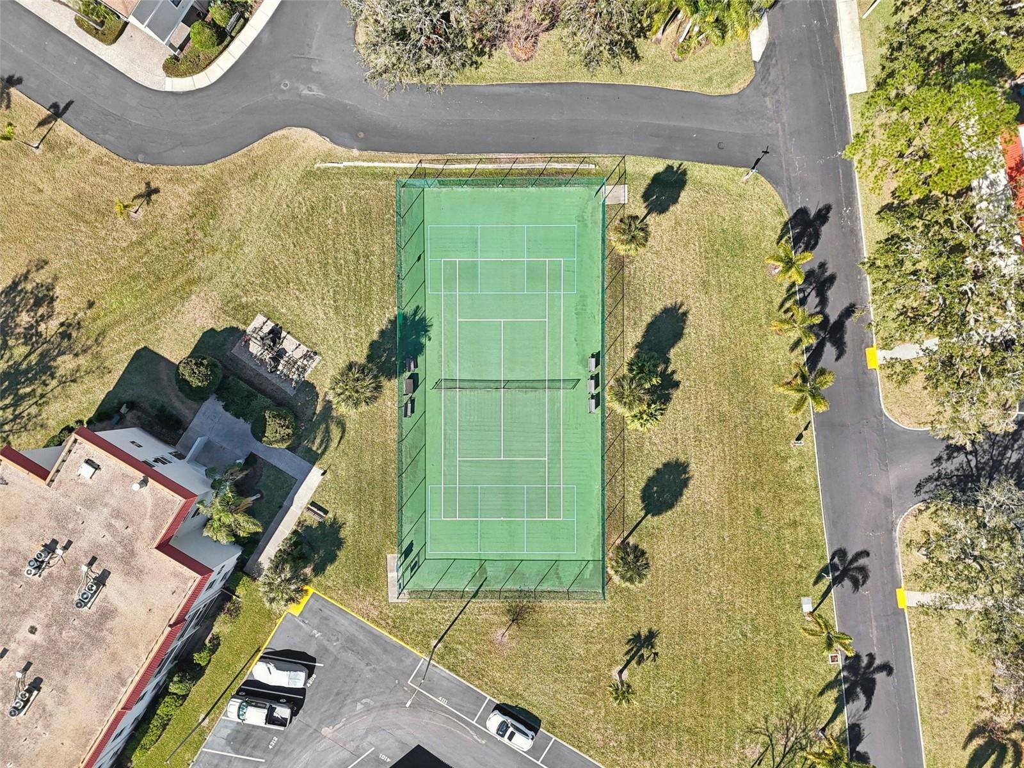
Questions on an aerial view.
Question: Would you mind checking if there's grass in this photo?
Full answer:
Yes, grass shows up in the scene.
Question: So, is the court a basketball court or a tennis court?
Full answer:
I'd say the court is a tennis court.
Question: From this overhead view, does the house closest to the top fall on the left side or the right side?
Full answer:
You can find the house closest to the top on the left side of the picture.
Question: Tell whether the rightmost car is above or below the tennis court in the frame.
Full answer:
The rightmost car is below the tennis court.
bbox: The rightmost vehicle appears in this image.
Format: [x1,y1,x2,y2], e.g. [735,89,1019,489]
[486,712,536,756]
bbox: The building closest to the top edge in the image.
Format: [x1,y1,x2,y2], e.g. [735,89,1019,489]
[100,0,198,56]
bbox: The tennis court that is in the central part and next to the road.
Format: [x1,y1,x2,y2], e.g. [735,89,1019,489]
[403,187,601,590]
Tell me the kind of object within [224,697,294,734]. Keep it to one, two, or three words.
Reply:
truck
